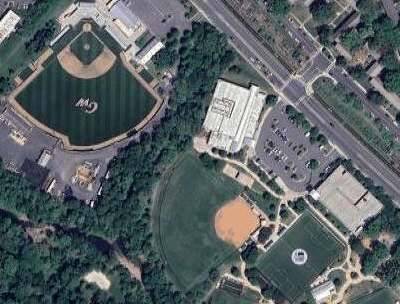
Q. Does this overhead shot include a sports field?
Yes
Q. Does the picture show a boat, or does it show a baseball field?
baseball field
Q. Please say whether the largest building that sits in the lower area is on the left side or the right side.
right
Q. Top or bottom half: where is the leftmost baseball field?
top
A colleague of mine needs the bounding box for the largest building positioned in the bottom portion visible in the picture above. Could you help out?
[316,165,382,233]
